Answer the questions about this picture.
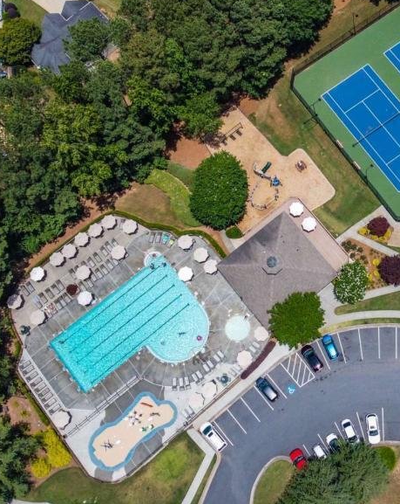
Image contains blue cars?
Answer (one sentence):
Yes, this view includes a blue car.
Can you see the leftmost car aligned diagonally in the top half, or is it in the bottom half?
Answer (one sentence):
It is in the bottom half that the leftmost car aligned diagonally appears.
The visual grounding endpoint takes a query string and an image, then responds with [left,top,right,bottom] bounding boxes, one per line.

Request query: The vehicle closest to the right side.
[366,412,381,444]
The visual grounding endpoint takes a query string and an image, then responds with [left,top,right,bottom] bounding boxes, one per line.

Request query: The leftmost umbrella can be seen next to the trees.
[7,293,24,310]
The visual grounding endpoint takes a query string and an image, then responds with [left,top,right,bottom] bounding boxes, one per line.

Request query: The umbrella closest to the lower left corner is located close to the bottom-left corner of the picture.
[53,409,70,427]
